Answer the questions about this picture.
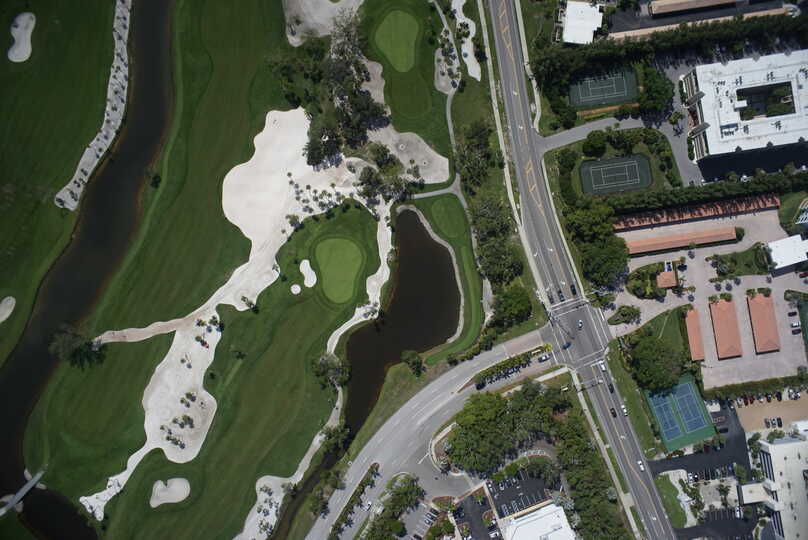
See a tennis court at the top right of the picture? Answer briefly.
Yes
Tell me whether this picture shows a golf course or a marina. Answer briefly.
golf course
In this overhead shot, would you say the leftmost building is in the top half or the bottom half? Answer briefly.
bottom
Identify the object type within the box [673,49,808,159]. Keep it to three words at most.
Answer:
building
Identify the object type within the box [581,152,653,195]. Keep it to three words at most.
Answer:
tennis court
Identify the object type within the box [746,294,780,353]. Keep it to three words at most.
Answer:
building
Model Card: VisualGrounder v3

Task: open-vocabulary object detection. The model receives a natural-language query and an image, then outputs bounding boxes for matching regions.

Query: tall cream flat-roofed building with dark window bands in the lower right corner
[739,417,808,540]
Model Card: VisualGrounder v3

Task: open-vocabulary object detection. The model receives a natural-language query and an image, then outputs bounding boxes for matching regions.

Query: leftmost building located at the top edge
[555,1,604,46]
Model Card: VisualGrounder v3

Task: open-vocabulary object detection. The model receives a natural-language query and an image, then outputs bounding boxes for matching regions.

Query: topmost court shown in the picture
[570,66,642,112]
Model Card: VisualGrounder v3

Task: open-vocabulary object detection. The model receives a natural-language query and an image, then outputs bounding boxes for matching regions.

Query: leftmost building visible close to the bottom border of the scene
[504,499,576,540]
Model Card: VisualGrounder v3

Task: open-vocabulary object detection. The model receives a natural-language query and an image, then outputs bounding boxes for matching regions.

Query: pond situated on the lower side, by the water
[274,208,458,540]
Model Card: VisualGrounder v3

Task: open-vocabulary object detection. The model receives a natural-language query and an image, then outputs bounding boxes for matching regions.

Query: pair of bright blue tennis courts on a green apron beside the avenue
[645,374,720,454]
